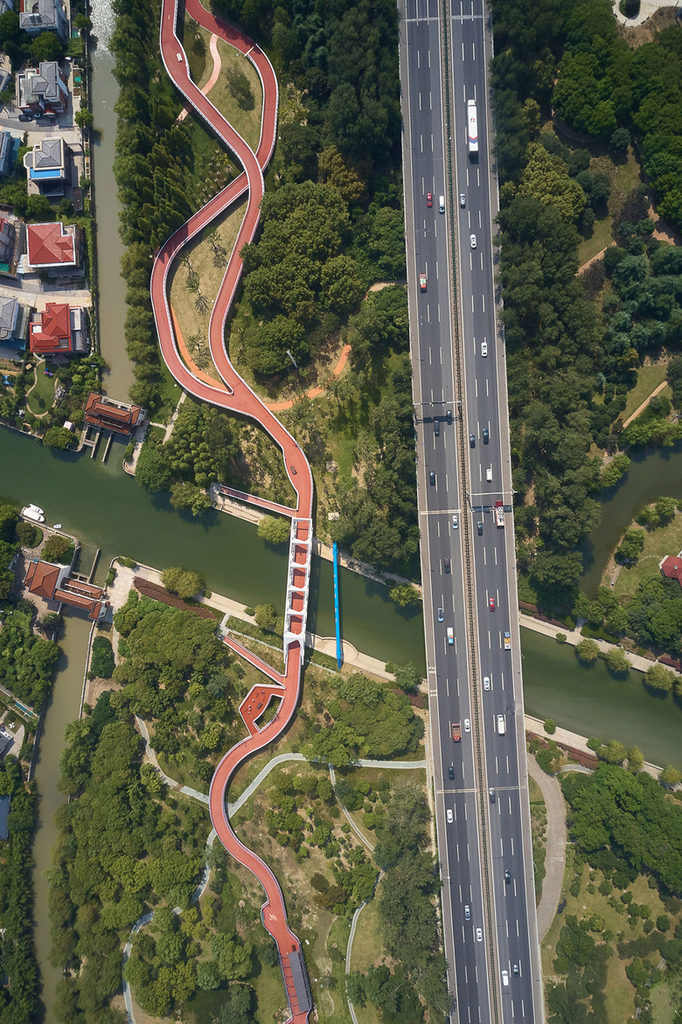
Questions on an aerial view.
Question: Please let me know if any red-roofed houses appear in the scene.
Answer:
Yes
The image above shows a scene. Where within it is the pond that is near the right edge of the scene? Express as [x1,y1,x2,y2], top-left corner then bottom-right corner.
[581,436,682,601]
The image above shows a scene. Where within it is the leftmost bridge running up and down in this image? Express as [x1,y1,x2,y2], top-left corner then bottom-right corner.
[283,516,312,663]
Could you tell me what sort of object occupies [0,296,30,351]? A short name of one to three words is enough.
house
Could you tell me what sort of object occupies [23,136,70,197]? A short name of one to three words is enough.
house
